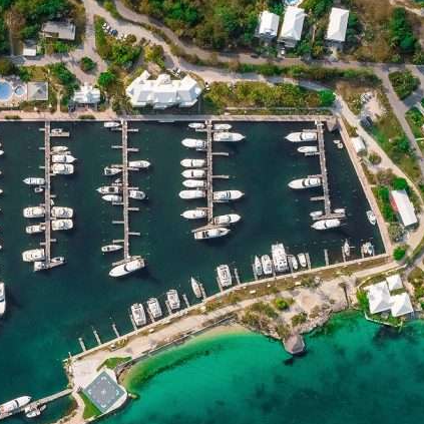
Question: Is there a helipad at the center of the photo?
No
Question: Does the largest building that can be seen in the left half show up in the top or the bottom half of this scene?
top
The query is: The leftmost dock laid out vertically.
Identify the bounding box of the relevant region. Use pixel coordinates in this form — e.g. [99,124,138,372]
[35,122,71,269]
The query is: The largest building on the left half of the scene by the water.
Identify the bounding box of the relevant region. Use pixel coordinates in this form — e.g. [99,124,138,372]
[126,71,202,111]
